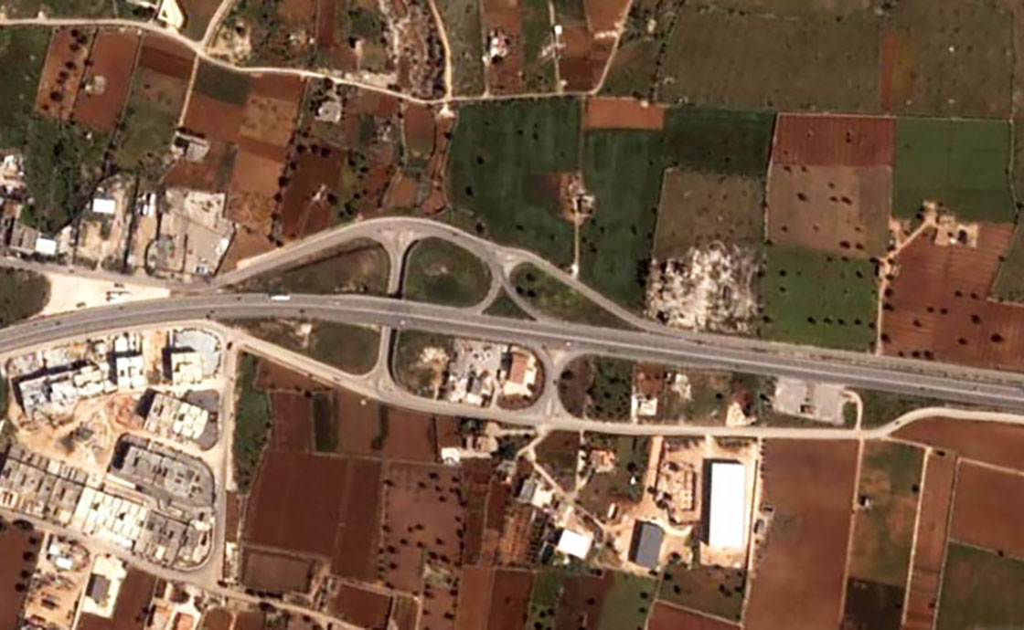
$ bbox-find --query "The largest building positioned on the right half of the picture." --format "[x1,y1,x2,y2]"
[710,463,745,549]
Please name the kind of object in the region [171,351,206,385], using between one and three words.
building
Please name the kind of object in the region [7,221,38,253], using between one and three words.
shed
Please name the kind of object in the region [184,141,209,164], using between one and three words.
house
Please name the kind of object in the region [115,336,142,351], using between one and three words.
building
